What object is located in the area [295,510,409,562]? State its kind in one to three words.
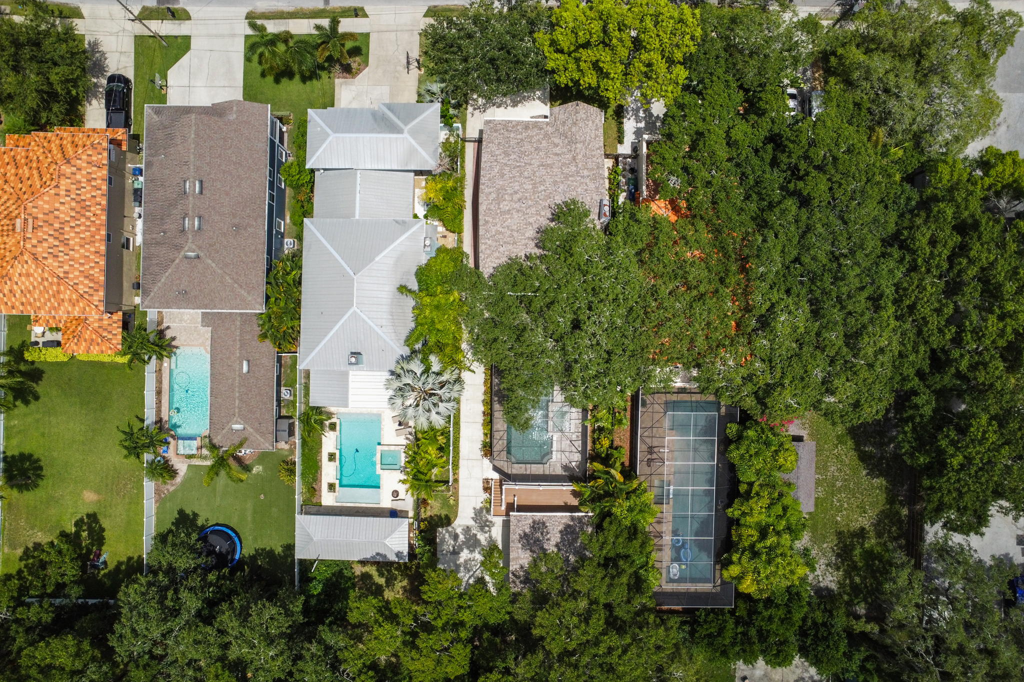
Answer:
building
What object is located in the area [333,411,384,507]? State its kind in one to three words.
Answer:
swimming pool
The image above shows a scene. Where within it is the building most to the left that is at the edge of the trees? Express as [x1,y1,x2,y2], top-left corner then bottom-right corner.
[0,126,139,354]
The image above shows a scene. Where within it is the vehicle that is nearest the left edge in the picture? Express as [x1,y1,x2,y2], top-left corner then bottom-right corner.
[103,70,132,128]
